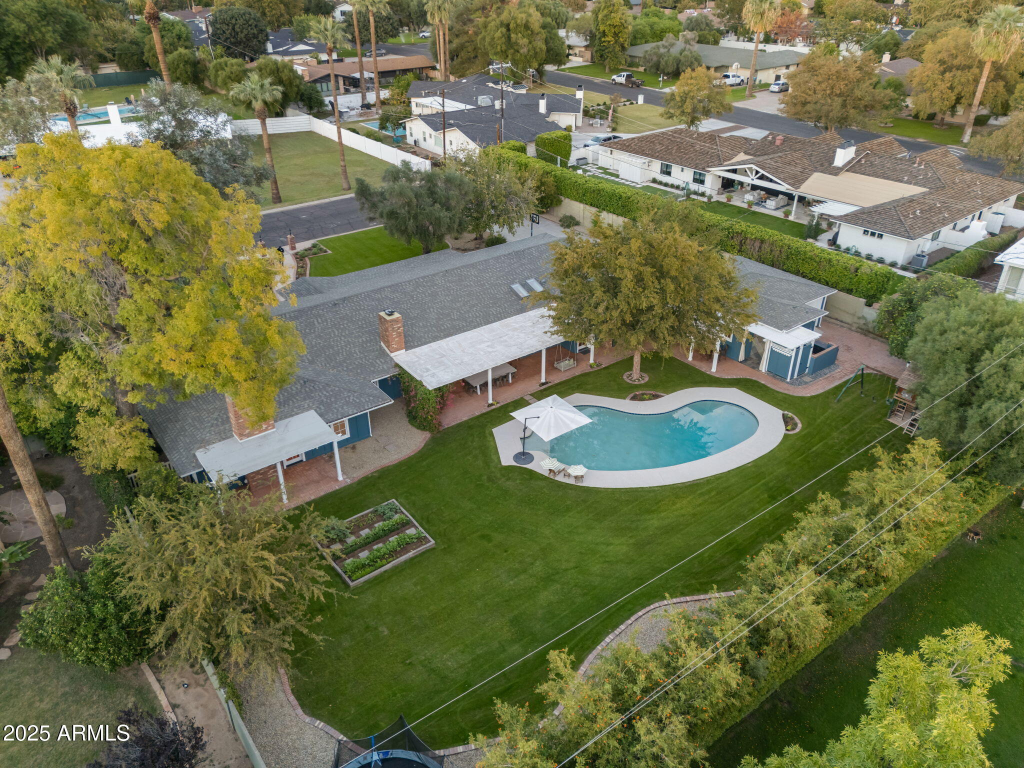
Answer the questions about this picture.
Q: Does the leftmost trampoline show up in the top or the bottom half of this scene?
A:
bottom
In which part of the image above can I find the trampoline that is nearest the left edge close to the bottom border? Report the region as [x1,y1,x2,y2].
[344,714,453,768]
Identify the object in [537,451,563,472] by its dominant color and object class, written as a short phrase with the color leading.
white umbrella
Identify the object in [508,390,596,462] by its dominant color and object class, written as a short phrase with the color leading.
white umbrella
